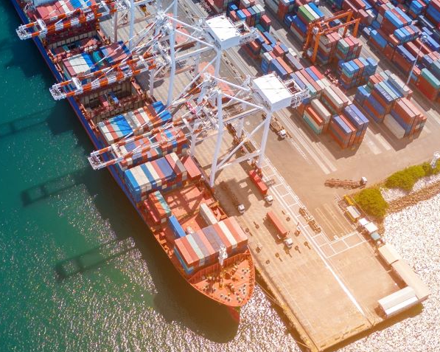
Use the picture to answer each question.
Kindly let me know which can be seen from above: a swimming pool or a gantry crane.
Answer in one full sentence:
It is a gantry crane that can be seen here.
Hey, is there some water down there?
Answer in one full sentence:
Yes, there's water in this view.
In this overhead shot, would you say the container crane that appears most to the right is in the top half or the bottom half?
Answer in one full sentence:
The container crane that appears most to the right sits in the top half of the picture.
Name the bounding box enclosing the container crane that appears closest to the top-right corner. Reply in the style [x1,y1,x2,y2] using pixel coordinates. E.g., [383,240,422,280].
[302,8,363,66]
